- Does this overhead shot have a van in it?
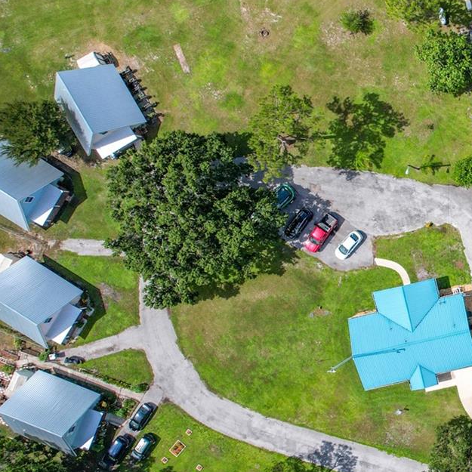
Yes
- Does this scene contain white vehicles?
Yes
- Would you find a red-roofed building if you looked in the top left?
No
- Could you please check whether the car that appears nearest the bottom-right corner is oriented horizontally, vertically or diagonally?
diagonally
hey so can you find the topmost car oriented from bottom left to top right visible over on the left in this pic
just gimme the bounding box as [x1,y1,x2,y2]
[131,396,159,430]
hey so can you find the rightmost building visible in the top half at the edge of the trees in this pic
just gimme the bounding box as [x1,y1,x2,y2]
[48,46,150,169]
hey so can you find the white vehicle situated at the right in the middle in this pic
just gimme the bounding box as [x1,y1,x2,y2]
[335,228,367,262]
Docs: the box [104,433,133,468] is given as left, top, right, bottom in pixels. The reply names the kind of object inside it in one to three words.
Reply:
van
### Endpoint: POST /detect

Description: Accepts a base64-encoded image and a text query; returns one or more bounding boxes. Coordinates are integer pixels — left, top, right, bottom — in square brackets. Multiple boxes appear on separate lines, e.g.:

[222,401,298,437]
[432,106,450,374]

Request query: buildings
[48,46,150,169]
[348,278,472,391]
[0,360,119,460]
[0,130,81,232]
[0,244,99,350]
